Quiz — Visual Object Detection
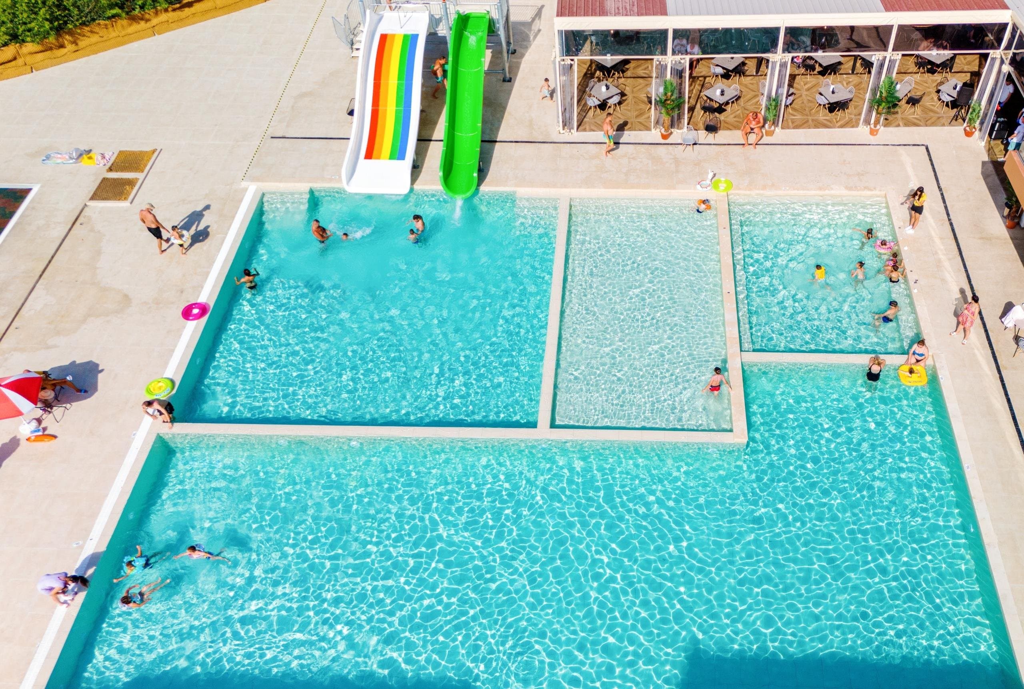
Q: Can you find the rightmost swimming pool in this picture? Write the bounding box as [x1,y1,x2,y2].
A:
[47,188,1018,689]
